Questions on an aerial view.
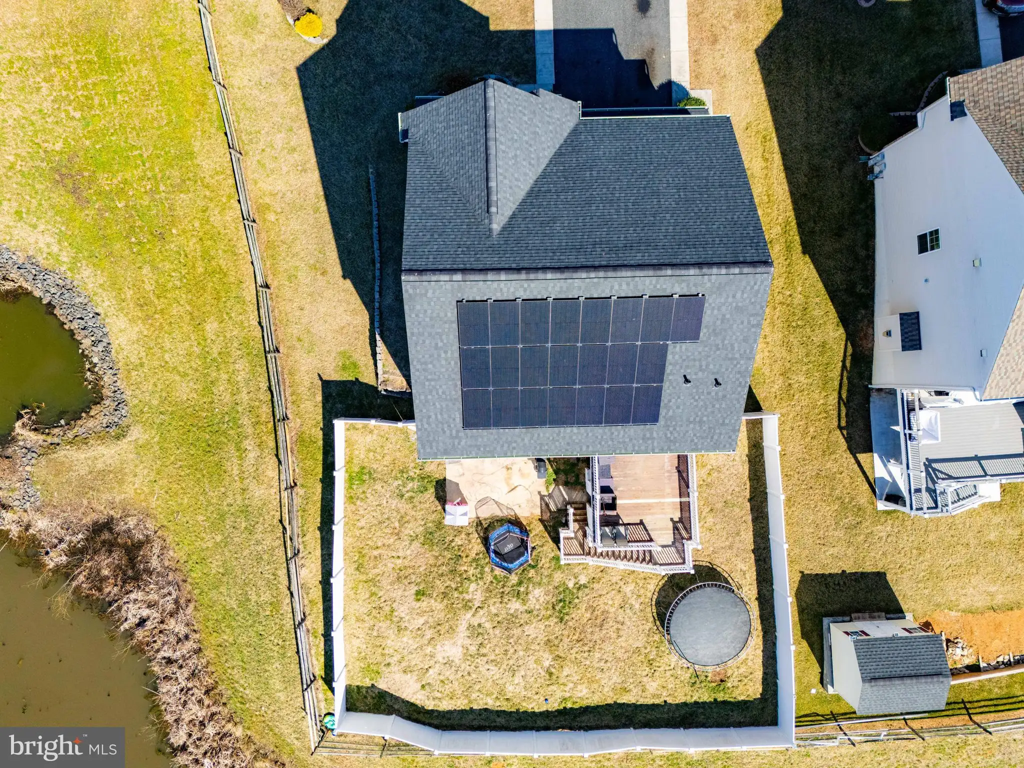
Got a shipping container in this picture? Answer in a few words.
No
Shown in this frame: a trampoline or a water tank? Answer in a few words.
trampoline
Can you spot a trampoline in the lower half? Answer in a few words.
Yes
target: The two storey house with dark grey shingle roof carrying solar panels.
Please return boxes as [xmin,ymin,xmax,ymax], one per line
[398,78,775,462]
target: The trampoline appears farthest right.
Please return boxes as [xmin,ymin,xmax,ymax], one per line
[663,578,755,671]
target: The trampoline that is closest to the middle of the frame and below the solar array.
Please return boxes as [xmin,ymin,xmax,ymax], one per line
[487,522,530,578]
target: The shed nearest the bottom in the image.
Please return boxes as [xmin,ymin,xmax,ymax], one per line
[823,605,955,715]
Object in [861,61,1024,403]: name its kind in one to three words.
house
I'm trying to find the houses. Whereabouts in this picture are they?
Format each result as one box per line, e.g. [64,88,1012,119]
[398,78,775,462]
[861,61,1024,403]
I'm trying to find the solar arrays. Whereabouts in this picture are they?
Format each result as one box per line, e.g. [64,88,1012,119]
[457,293,707,430]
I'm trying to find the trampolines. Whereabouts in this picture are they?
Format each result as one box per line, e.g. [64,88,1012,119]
[663,578,755,671]
[487,522,530,578]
